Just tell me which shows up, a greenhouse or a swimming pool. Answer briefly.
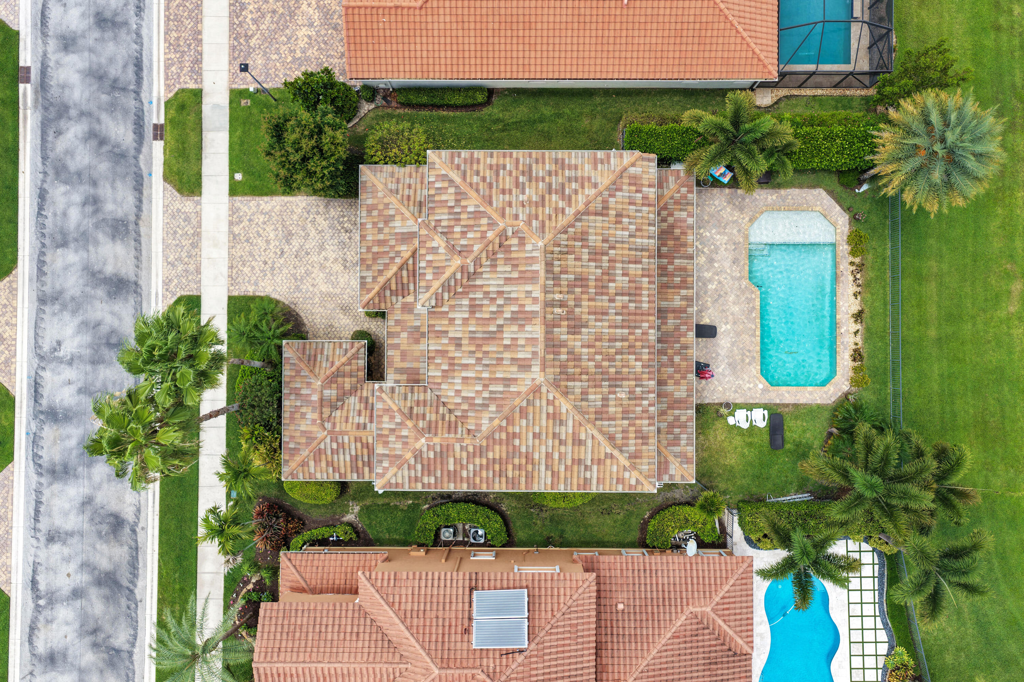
swimming pool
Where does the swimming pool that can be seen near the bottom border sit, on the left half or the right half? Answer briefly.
right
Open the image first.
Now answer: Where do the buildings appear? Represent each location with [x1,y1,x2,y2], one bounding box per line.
[250,542,756,682]
[281,148,697,494]
[341,0,781,88]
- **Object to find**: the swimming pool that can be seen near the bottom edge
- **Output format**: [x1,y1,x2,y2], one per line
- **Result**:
[753,565,846,682]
